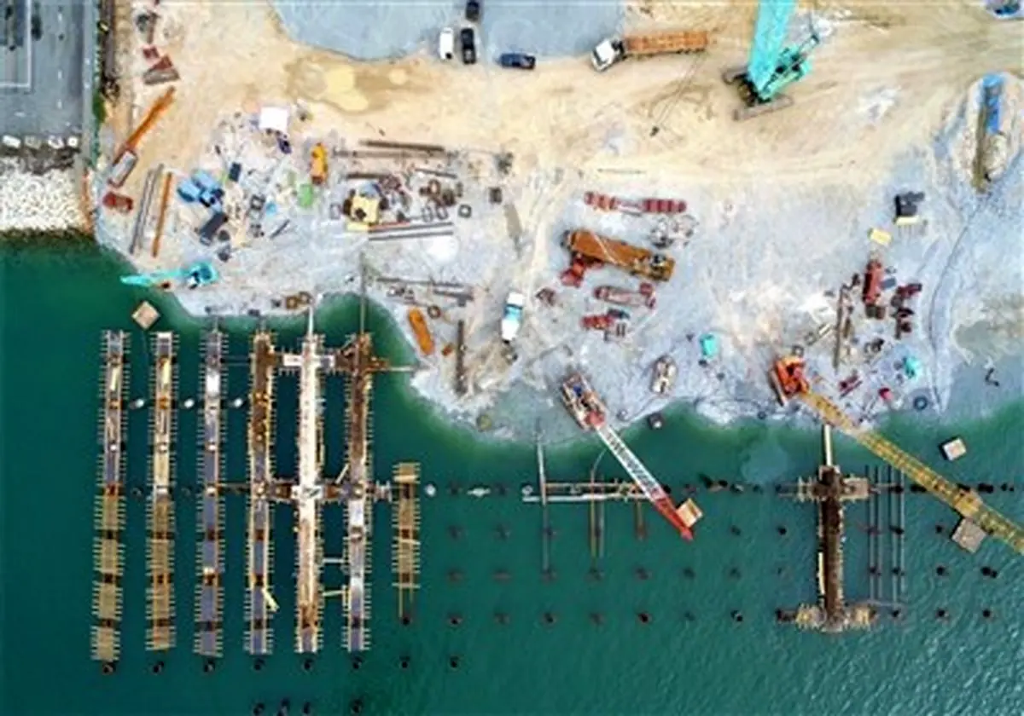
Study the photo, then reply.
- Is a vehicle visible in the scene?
Yes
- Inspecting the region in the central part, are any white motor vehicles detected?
Yes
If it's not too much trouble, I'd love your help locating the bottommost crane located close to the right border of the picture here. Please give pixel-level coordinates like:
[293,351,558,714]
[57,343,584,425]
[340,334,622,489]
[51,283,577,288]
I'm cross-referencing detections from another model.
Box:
[766,347,1024,559]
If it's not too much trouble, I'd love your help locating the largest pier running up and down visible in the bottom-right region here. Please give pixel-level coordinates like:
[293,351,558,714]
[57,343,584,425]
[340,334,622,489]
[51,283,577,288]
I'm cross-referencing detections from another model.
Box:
[815,467,846,632]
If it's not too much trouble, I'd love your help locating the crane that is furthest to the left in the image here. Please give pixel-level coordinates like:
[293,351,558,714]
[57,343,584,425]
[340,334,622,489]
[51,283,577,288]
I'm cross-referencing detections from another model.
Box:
[559,373,693,542]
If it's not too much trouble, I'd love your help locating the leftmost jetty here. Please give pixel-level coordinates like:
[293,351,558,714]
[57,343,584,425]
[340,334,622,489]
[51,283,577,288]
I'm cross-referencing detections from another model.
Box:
[90,330,131,663]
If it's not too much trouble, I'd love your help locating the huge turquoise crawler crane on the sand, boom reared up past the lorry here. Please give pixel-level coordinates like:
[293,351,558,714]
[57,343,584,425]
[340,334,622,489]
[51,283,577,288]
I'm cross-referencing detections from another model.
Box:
[736,0,825,109]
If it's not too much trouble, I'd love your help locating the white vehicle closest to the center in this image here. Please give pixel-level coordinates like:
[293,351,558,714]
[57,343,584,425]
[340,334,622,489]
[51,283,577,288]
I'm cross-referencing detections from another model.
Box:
[502,290,522,343]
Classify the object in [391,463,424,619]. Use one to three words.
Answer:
pier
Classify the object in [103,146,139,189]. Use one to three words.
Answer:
trailer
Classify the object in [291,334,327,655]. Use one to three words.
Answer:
pier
